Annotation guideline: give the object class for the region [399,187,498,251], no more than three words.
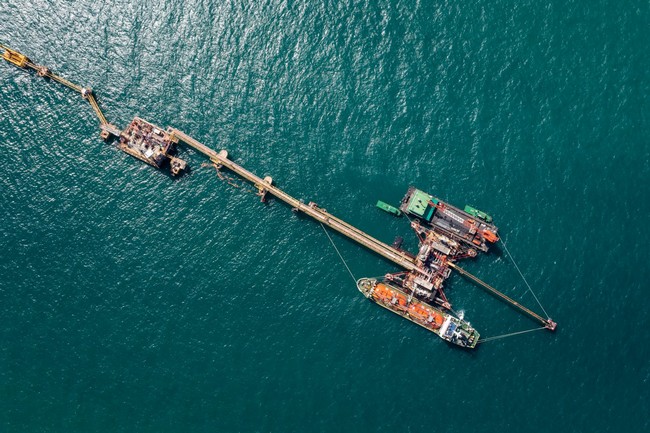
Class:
ship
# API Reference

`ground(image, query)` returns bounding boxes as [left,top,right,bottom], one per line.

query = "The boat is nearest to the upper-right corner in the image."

[463,204,492,220]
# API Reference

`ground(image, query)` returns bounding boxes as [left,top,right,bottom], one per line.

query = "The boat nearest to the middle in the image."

[376,200,400,215]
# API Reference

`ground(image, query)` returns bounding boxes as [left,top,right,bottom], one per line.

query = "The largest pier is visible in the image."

[166,126,432,276]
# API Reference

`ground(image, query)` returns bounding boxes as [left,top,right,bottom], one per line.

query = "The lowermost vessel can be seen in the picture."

[357,277,480,349]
